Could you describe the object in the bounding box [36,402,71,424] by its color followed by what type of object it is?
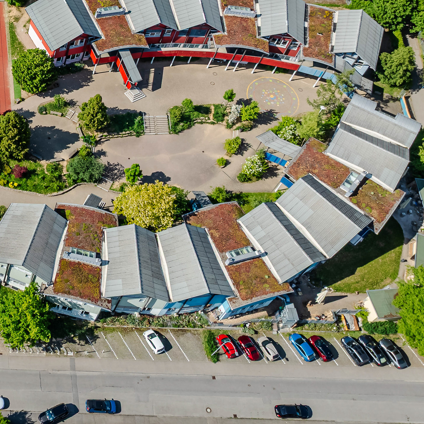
black car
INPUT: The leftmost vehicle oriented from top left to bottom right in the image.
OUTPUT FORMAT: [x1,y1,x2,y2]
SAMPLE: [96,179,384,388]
[142,327,166,357]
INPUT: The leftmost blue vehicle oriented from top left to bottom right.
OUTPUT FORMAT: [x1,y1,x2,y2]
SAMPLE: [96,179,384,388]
[288,332,317,364]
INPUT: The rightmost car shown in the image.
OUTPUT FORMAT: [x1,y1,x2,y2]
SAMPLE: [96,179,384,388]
[378,338,409,370]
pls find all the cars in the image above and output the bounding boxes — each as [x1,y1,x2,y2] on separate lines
[142,327,166,357]
[256,334,281,364]
[215,332,241,361]
[378,338,409,370]
[341,335,370,367]
[308,334,334,364]
[358,335,389,367]
[272,401,314,421]
[236,334,261,362]
[288,332,317,364]
[85,398,118,415]
[36,402,71,424]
